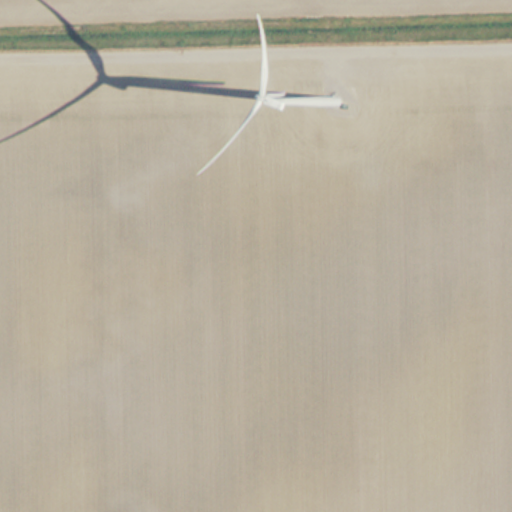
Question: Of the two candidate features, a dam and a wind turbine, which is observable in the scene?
wind turbine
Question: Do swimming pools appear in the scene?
No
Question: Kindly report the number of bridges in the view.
zero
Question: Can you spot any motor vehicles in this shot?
No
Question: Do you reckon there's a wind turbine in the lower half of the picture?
No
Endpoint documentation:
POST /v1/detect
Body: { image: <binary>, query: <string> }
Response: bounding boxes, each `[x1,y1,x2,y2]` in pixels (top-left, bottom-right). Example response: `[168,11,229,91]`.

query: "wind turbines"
[200,14,343,172]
